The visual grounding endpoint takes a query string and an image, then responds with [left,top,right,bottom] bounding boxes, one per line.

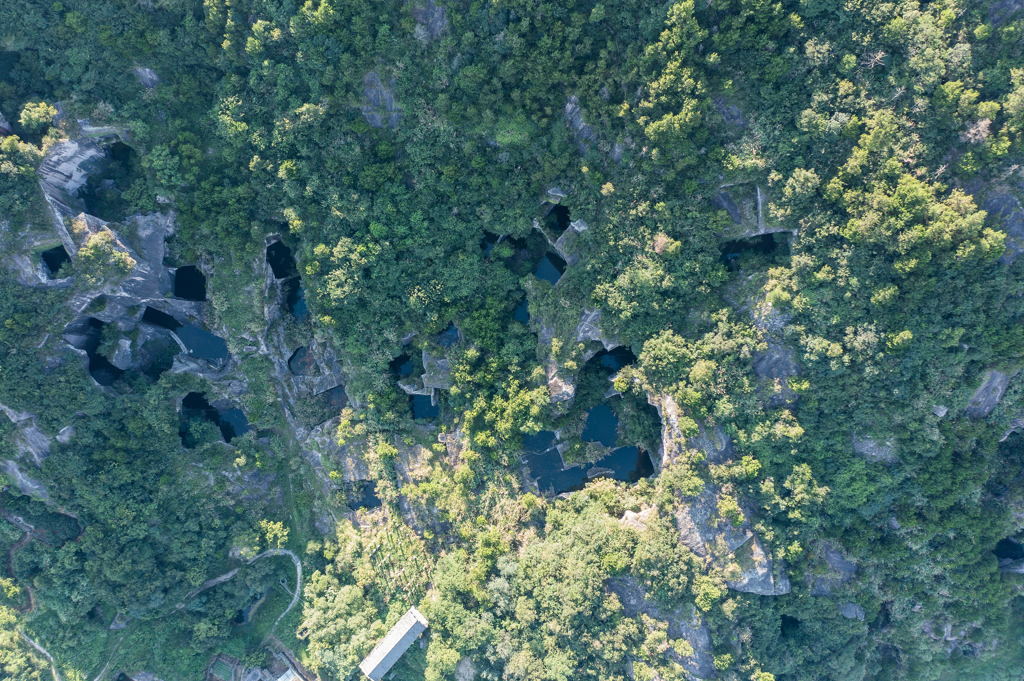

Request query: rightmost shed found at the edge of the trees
[355,608,430,681]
